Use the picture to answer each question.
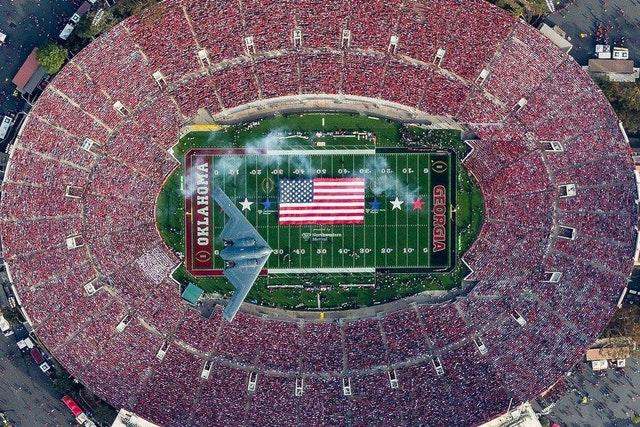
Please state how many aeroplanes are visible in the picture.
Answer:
one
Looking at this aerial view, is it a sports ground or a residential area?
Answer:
sports ground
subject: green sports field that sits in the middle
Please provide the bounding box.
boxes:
[185,134,458,288]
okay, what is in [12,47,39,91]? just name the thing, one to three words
building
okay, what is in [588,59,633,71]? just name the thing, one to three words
building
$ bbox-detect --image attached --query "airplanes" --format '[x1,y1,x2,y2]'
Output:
[214,186,272,323]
